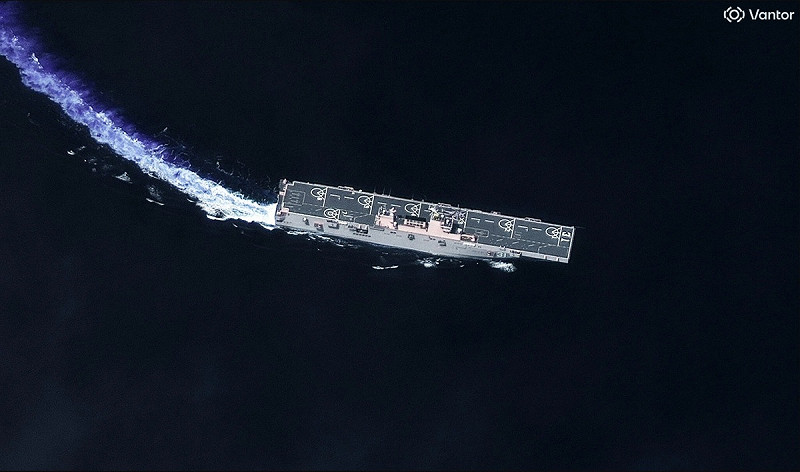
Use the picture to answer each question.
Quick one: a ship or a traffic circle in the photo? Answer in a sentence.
Looking from above, you can make out a ship.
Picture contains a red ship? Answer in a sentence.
No, I find no red ship anywhere in the image.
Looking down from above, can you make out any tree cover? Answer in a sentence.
No, the scene doesn't show any tree cover.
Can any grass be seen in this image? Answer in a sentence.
No, no grass is visible.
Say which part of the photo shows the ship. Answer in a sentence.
The ship sits in the center section of the image.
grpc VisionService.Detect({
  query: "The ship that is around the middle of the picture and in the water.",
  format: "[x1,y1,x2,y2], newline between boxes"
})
[274,178,576,262]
